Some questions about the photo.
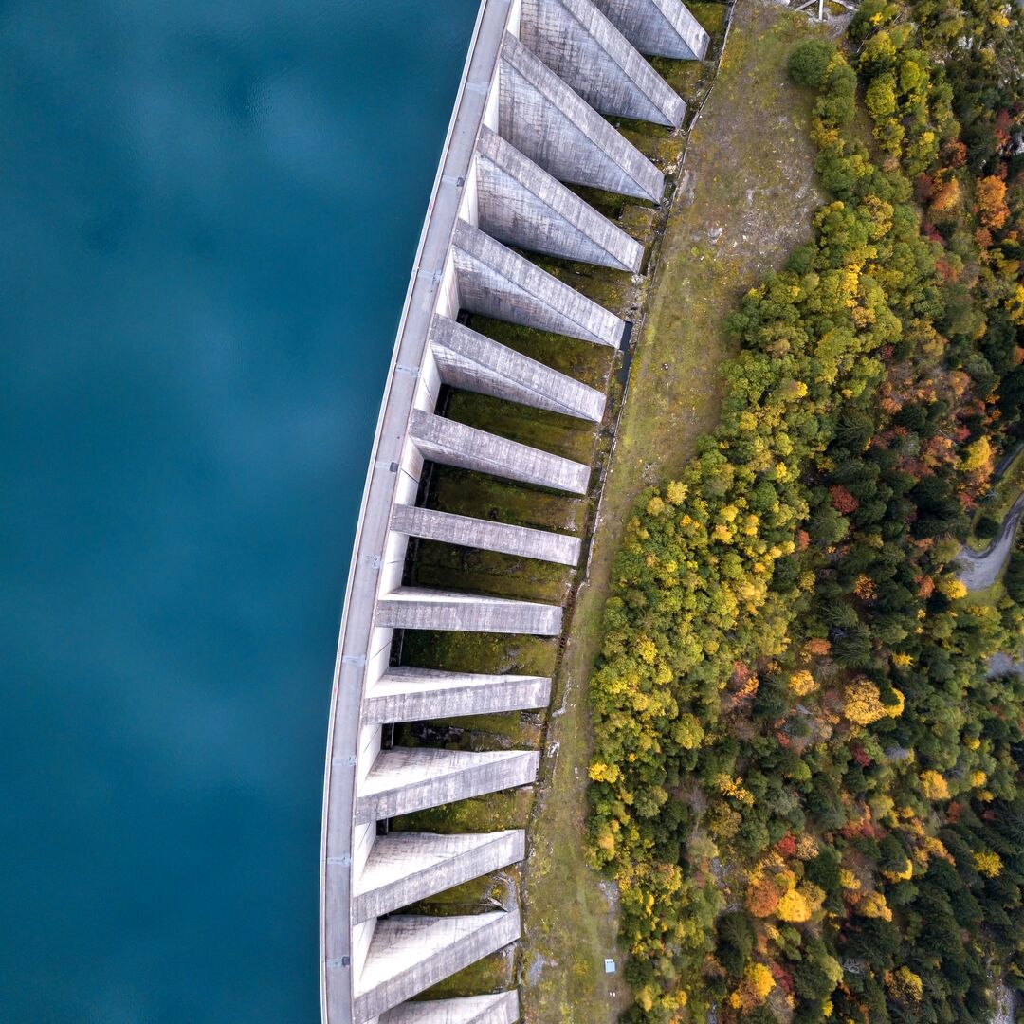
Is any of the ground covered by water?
Yes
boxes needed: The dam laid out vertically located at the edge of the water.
[320,0,712,1024]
